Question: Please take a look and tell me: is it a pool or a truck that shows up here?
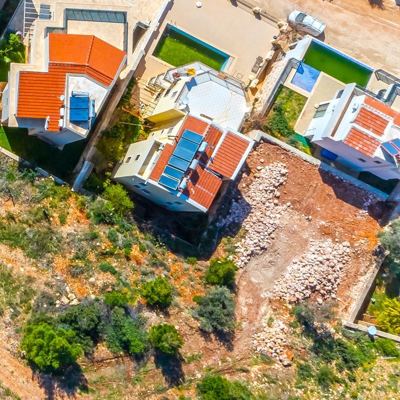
pool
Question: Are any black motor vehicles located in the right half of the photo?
No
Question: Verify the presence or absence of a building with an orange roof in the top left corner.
Yes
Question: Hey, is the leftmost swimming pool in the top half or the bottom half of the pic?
top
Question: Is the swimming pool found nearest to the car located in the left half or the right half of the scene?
right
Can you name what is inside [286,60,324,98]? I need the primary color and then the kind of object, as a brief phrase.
blue swimming pool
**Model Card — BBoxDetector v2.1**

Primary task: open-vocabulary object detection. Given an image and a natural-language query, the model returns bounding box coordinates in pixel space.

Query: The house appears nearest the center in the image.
[117,61,256,223]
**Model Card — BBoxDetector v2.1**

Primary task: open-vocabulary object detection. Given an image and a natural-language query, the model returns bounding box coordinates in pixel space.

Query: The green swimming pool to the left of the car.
[147,18,234,74]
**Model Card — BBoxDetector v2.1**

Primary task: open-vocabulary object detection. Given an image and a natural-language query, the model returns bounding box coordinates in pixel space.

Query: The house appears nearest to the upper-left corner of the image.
[0,10,134,150]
